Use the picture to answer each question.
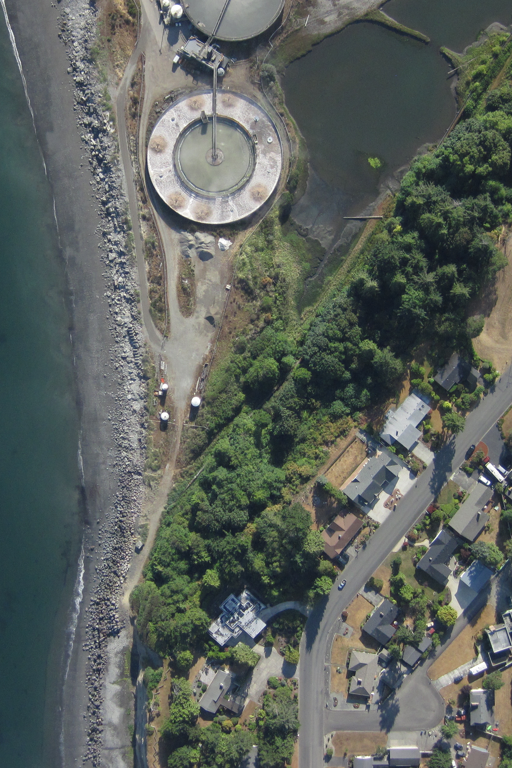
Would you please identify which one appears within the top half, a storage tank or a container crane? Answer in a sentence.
The one visible within the top half is a storage tank.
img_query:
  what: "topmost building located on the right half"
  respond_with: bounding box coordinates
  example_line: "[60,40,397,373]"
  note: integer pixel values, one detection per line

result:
[436,353,483,390]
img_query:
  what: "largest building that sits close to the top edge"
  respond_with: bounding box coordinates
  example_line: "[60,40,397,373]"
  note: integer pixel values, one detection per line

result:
[178,33,234,72]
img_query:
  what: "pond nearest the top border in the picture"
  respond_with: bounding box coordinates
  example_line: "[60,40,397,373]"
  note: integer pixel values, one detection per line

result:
[281,0,512,208]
